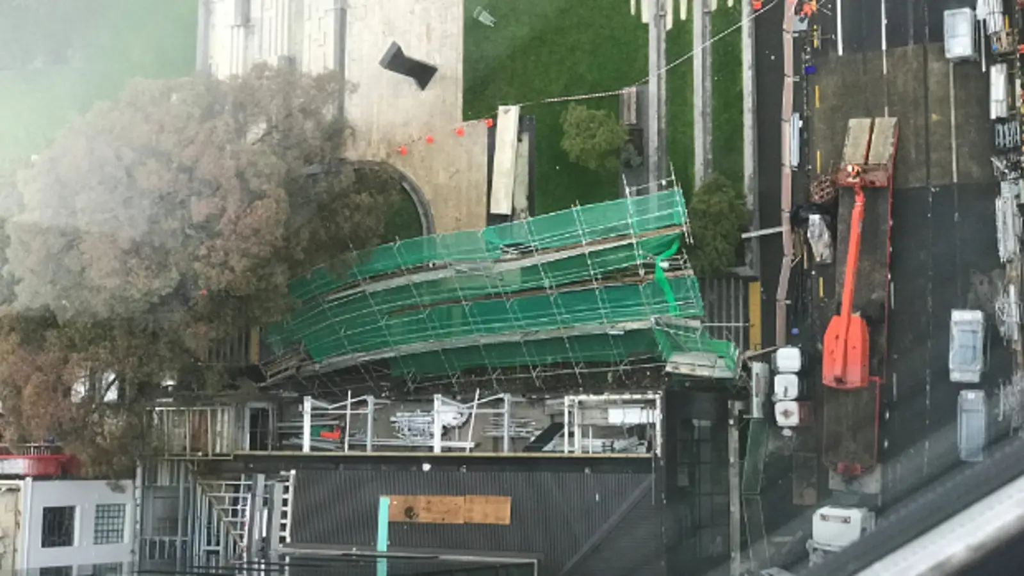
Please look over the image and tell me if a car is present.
Yes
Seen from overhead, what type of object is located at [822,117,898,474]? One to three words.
trailer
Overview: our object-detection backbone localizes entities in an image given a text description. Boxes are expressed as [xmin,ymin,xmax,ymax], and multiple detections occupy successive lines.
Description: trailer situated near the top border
[940,8,982,64]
